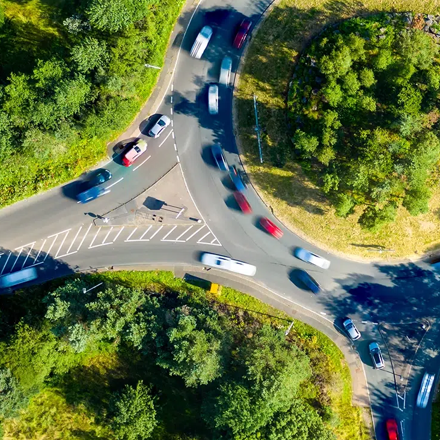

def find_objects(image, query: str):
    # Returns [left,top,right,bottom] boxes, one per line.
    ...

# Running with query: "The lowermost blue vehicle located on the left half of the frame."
[1,267,38,289]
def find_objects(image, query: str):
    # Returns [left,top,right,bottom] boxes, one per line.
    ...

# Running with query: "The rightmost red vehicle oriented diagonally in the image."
[258,215,285,241]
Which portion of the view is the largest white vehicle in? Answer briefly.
center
